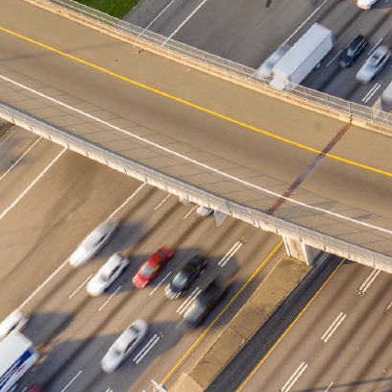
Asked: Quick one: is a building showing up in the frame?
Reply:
No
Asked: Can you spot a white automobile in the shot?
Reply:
Yes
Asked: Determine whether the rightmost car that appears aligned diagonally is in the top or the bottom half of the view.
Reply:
top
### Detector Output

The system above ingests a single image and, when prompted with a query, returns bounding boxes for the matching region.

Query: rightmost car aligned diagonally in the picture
[357,48,391,81]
